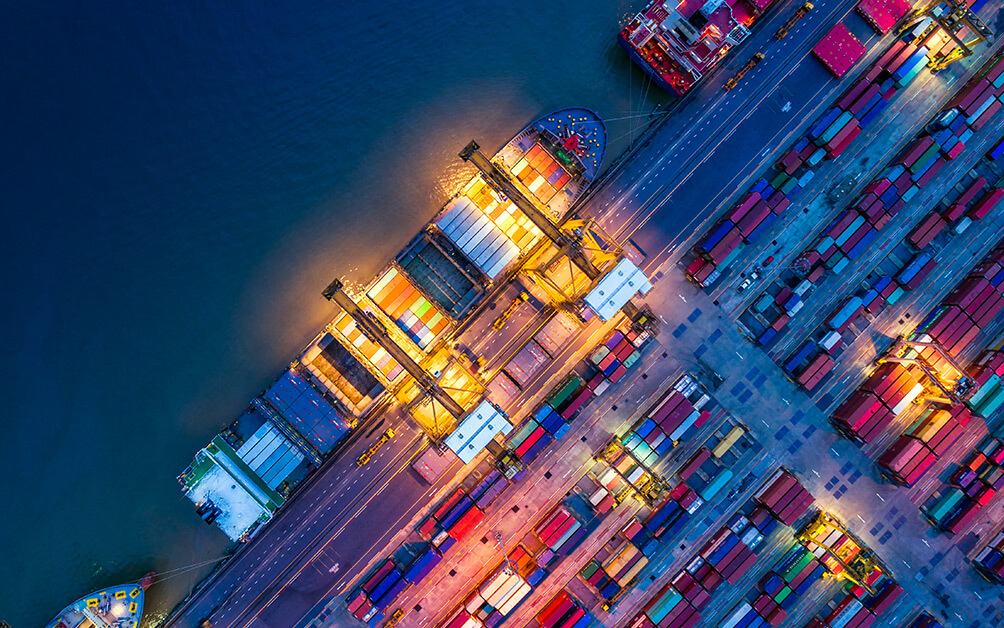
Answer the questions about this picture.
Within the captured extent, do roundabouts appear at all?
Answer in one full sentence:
No, there appears to be no roundabout in this shot.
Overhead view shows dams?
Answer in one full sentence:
No, no dam is visible in the scene.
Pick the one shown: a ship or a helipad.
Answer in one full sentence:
I can see a ship in this picture.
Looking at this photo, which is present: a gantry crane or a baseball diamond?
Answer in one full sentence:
The one in the frame is a gantry crane.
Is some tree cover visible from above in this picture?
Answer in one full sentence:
No, there is no tree cover in the image.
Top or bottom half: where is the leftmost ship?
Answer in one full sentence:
The leftmost ship is in the bottom half of the image.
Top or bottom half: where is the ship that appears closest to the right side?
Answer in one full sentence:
You can find the ship that appears closest to the right side in the top half.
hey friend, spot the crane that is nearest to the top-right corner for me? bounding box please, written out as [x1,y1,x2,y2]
[887,0,993,69]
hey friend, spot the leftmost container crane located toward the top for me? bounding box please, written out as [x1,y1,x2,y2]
[454,139,666,350]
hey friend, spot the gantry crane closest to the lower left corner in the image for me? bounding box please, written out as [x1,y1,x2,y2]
[319,277,532,485]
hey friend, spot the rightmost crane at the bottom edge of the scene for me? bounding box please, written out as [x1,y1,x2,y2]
[795,511,898,597]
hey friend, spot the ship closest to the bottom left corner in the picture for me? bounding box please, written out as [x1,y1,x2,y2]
[44,572,157,628]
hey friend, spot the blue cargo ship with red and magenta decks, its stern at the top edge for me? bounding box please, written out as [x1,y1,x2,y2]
[619,0,775,96]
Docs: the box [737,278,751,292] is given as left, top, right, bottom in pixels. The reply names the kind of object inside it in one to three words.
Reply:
vehicle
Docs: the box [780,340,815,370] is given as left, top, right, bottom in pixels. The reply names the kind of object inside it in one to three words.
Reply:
shipping container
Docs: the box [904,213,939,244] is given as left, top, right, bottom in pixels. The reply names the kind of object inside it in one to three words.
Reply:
shipping container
